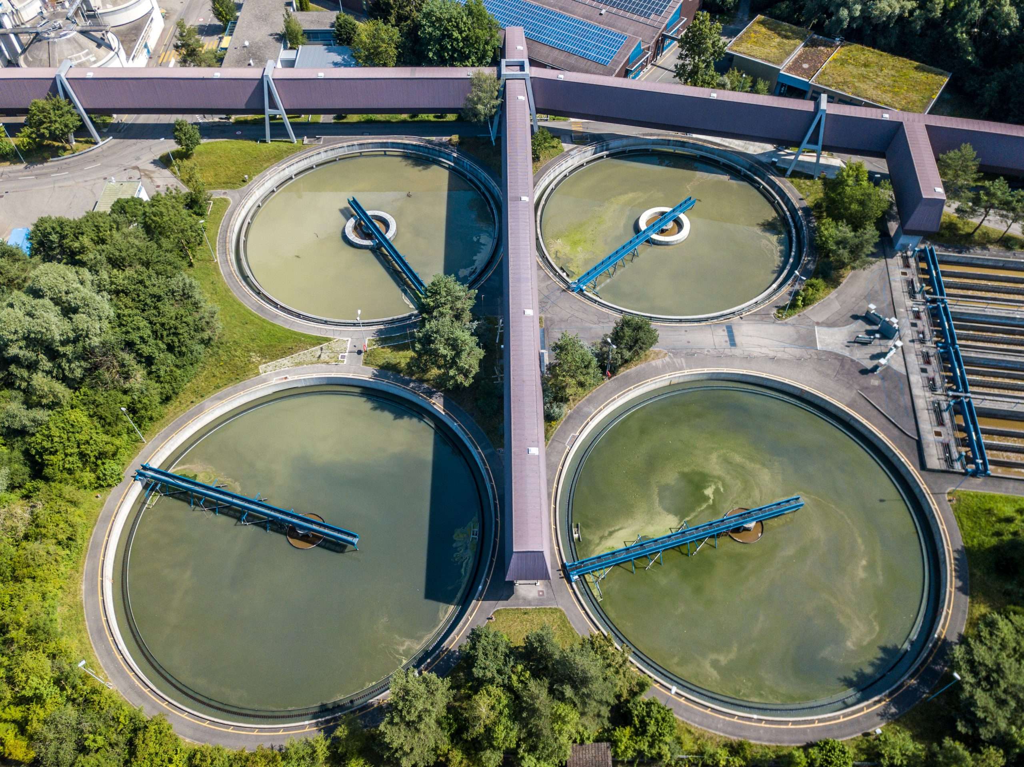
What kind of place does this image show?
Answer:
industrial area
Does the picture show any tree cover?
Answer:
Yes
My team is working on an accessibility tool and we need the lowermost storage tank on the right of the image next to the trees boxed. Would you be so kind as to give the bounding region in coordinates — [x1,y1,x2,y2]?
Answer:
[552,367,955,727]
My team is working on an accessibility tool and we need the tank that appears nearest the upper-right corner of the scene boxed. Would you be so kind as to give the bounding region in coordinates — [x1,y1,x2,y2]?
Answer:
[532,128,808,325]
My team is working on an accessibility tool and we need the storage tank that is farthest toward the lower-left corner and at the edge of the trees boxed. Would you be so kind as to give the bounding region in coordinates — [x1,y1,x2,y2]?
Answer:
[98,369,500,735]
